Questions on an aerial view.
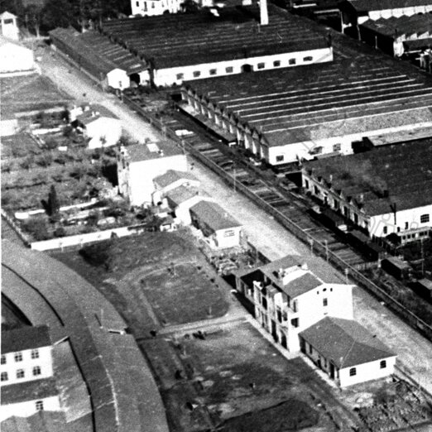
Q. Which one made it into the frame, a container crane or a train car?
train car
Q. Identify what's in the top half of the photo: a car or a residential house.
residential house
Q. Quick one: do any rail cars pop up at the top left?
No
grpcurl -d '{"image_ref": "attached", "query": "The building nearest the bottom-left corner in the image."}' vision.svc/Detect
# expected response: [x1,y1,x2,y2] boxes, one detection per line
[0,327,52,383]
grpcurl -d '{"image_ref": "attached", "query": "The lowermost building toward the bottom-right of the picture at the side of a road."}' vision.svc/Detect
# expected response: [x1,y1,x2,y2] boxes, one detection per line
[301,329,399,387]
